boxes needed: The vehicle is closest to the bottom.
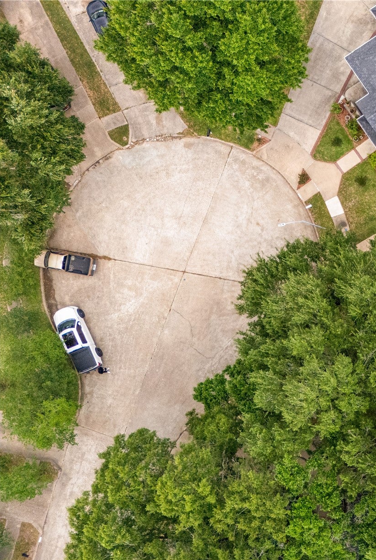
[53,305,101,373]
